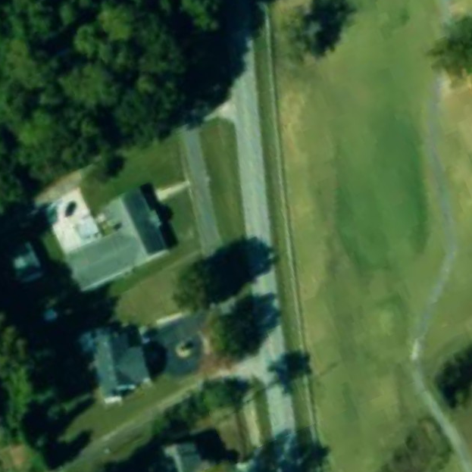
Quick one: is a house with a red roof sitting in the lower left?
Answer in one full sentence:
No, in the lower left there is no house with a red roof.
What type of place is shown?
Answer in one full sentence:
The picture captures a golf course.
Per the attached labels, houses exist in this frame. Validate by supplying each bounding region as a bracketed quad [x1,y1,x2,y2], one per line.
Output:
[95,330,151,400]
[153,442,189,472]
[66,192,167,293]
